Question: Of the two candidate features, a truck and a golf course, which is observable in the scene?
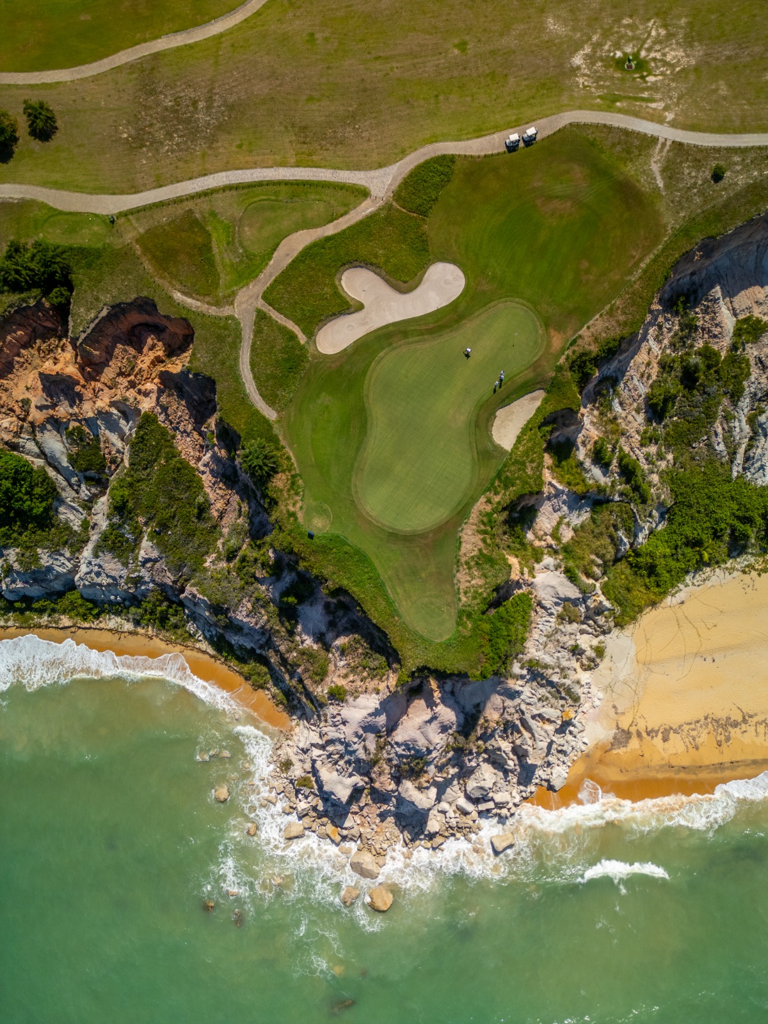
golf course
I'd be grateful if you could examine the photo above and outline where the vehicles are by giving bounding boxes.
[524,124,540,140]
[506,130,523,145]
